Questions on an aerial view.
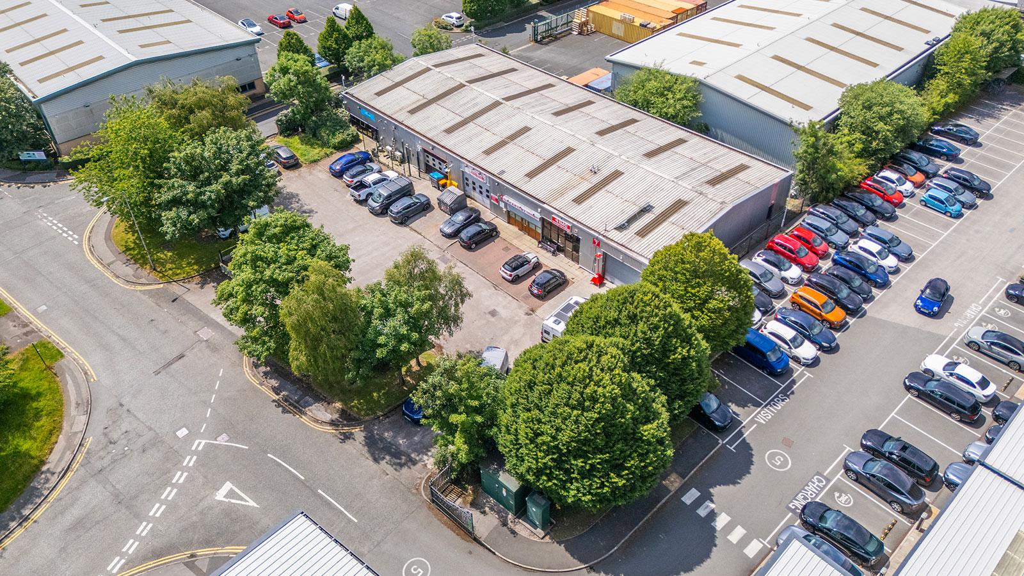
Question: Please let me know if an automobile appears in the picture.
Yes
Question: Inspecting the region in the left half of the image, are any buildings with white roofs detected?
Yes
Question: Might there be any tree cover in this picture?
Yes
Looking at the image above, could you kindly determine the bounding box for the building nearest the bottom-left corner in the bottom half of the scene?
[199,507,359,576]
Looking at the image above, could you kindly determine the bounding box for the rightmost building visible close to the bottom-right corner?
[898,400,1024,576]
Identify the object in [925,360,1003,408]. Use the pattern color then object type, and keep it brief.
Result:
white car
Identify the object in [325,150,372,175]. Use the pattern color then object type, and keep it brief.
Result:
blue car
